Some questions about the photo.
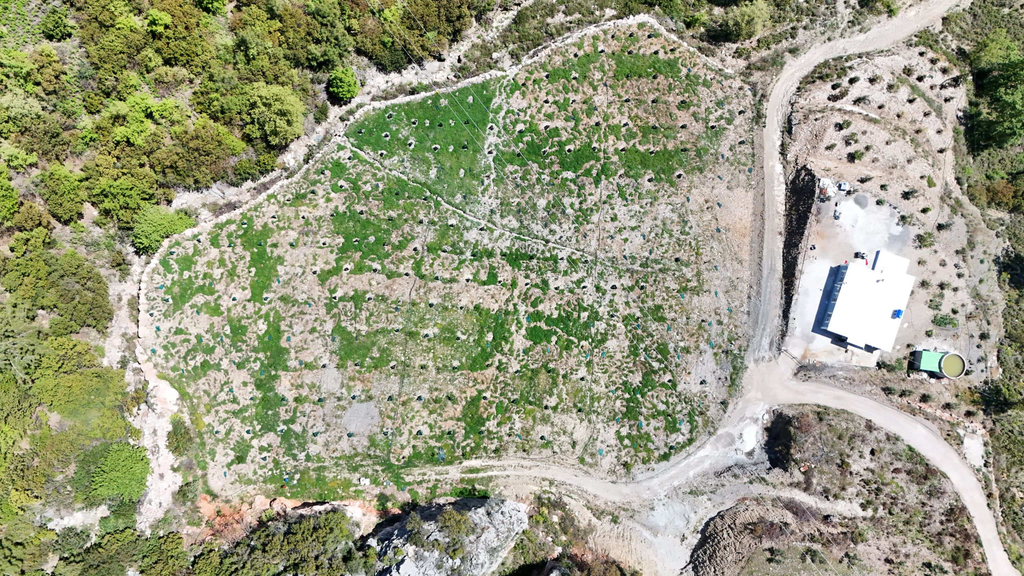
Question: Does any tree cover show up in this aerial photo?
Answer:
Yes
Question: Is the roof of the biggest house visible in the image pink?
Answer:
No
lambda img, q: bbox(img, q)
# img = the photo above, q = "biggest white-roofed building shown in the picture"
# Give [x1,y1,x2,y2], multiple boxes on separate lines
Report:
[818,250,915,352]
